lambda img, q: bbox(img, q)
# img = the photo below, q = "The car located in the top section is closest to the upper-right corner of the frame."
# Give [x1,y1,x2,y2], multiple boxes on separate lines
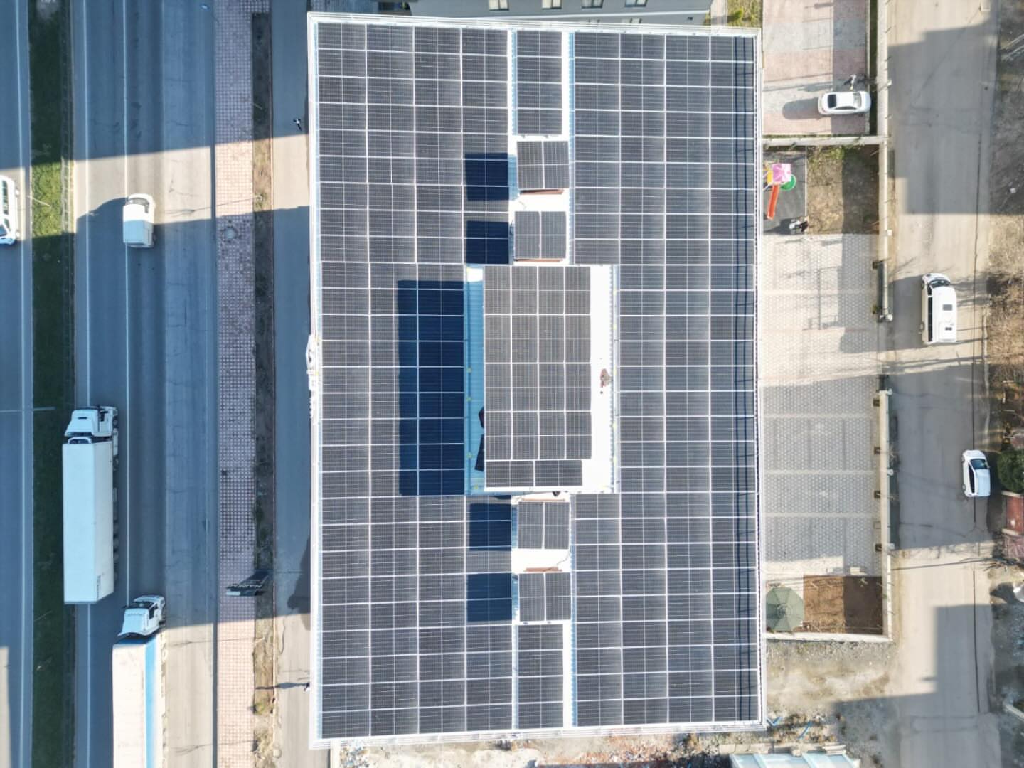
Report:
[820,89,871,115]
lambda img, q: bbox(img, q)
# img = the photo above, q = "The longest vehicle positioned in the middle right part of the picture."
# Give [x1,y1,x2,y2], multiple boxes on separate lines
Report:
[919,273,955,344]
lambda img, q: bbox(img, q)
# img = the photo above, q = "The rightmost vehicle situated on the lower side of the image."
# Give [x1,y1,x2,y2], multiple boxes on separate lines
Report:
[962,450,991,496]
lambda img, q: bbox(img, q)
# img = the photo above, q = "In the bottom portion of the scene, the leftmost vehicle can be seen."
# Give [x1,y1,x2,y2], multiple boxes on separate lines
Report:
[64,406,119,602]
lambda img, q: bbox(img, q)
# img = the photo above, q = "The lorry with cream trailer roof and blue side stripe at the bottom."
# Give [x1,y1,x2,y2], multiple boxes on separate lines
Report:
[114,596,166,768]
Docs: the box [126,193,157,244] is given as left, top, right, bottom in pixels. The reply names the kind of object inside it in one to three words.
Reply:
van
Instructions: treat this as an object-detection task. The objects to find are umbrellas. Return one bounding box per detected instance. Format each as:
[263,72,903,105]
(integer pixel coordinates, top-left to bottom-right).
[765,587,803,630]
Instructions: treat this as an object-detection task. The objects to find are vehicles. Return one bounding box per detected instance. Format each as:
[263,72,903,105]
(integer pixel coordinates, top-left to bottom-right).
[820,89,871,115]
[0,172,17,243]
[64,406,119,602]
[126,193,157,244]
[962,450,991,496]
[919,273,955,344]
[114,596,166,768]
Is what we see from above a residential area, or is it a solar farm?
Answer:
solar farm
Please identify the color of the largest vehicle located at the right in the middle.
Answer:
white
